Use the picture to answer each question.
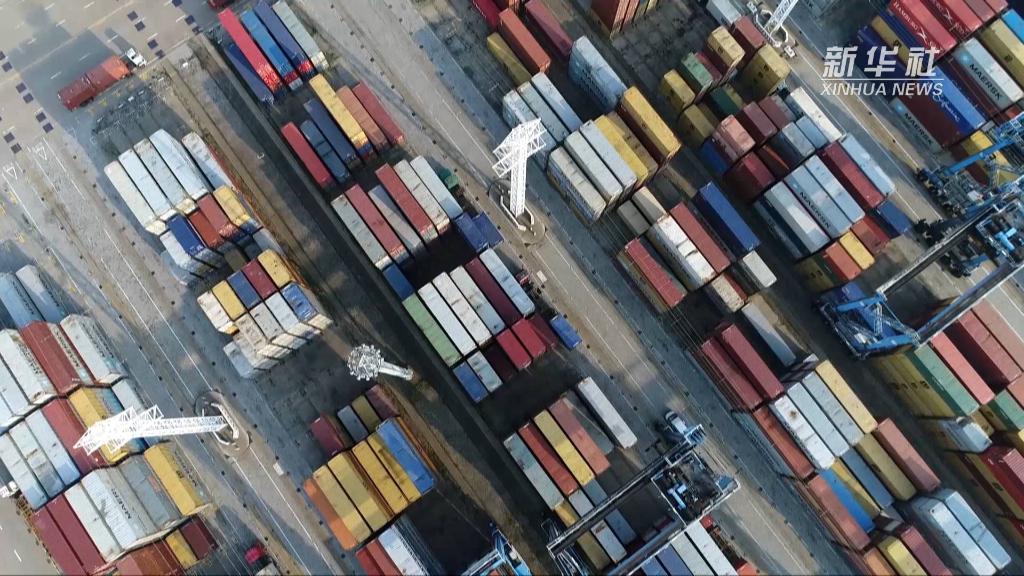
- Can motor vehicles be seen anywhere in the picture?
Yes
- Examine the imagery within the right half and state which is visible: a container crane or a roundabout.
container crane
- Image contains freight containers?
Yes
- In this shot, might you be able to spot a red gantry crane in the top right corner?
No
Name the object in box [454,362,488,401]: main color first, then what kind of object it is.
blue shipping container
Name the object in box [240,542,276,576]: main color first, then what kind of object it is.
red truck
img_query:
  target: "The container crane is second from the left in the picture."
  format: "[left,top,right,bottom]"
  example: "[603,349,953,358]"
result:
[537,422,752,576]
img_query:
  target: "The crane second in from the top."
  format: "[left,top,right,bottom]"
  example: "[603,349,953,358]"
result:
[819,179,1024,359]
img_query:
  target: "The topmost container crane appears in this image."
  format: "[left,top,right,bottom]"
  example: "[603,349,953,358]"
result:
[924,93,1024,221]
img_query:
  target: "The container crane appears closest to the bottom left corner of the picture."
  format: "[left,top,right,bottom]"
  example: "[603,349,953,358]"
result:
[447,514,534,576]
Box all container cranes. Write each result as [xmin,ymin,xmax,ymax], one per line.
[819,179,1024,359]
[537,422,752,576]
[924,93,1024,221]
[447,514,534,576]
